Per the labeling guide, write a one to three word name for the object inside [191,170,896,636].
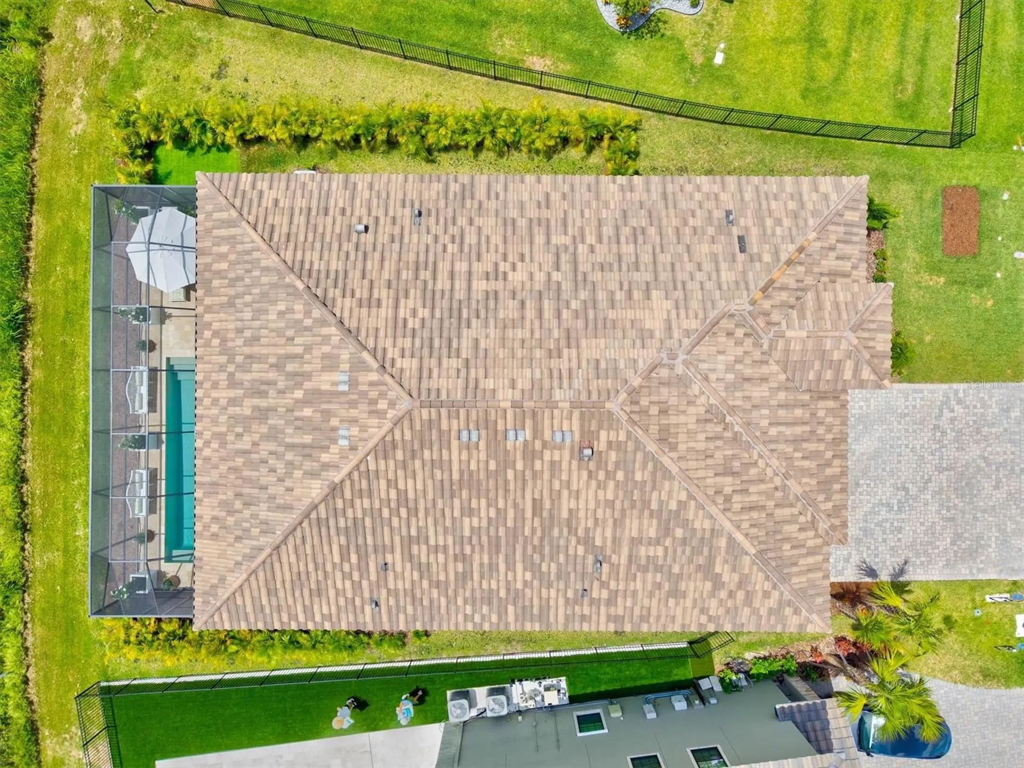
house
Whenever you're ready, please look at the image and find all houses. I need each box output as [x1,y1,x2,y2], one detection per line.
[436,674,876,768]
[191,170,896,636]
